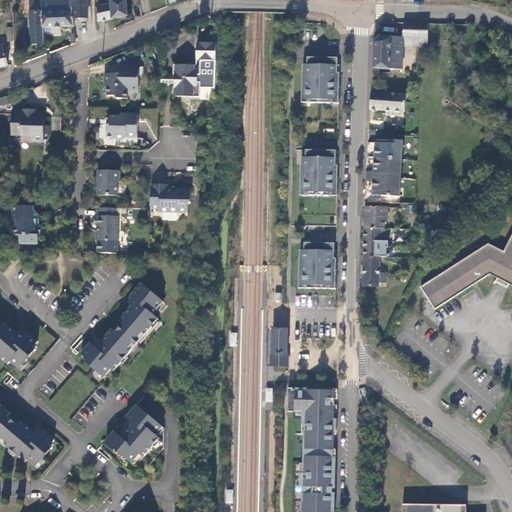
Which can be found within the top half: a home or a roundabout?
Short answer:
home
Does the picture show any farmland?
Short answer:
No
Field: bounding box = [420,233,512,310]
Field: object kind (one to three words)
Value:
building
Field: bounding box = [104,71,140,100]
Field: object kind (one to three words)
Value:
house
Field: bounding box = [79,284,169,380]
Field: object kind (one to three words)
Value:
building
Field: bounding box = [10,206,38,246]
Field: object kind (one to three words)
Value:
house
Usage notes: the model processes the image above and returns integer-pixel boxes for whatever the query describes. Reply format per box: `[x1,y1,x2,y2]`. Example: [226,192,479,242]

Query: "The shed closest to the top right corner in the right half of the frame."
[402,29,428,50]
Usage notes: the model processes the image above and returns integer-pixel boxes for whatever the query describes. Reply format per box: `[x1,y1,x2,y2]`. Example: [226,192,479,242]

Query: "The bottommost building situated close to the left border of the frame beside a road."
[0,400,58,475]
